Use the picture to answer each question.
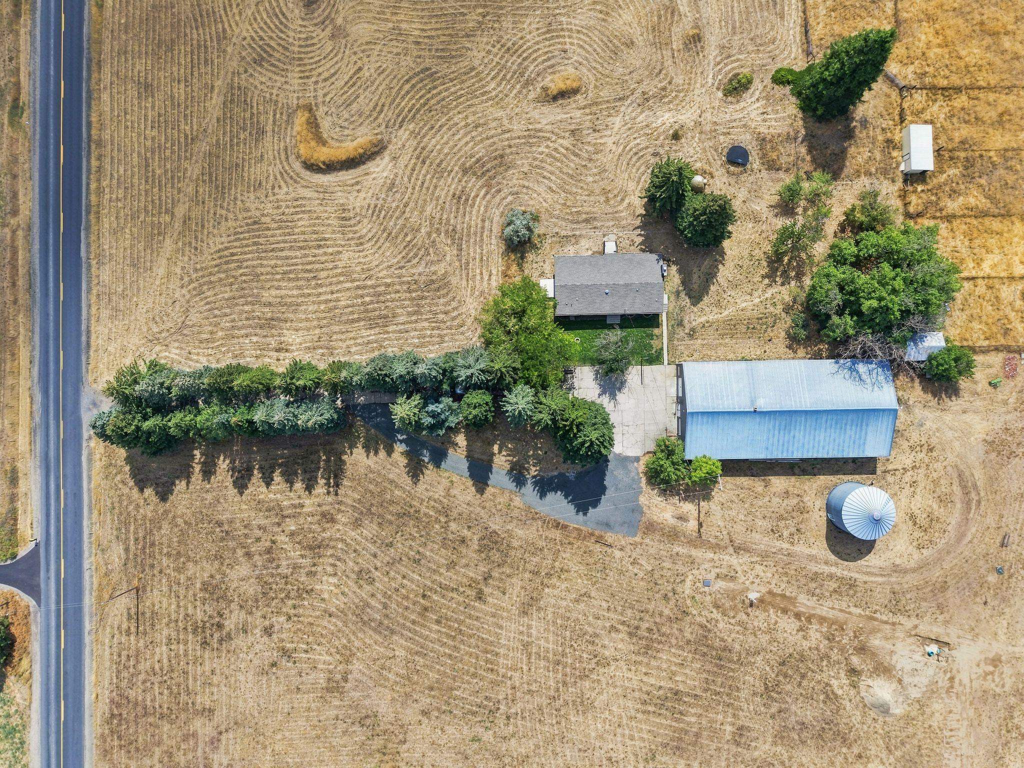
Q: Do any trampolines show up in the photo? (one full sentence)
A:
Yes, this view includes a trampoline.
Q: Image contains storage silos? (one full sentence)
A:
Yes, a storage silo is visible in the scene.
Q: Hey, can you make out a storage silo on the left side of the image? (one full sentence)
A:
No, there is no storage silo on the left side of the image.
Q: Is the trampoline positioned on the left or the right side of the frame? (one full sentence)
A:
You can find the trampoline on the right side of the picture.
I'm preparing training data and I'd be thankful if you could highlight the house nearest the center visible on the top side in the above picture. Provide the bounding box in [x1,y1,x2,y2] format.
[541,239,667,324]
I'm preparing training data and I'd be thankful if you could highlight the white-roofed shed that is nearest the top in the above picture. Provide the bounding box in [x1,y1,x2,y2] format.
[899,124,933,175]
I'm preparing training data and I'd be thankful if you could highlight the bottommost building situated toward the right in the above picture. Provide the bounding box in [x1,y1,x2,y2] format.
[677,358,900,461]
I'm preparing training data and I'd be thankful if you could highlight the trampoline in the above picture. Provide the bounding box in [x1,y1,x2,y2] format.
[726,145,751,170]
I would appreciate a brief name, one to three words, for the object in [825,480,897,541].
silo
